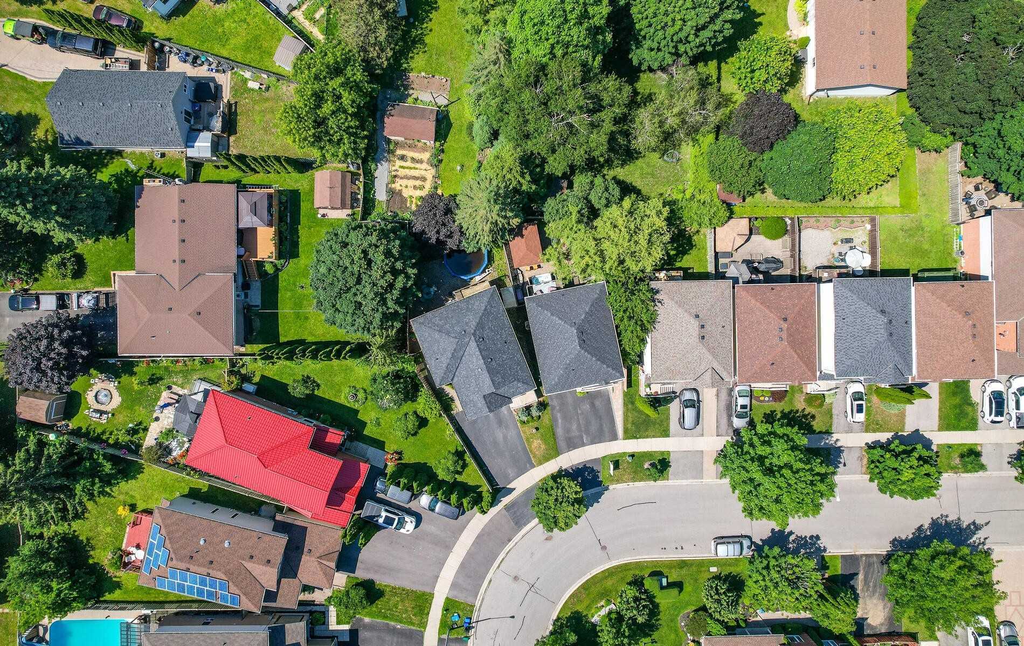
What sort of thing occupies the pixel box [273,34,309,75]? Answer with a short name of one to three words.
shed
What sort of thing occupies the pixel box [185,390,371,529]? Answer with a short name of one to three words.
house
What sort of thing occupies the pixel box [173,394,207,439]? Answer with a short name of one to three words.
gazebo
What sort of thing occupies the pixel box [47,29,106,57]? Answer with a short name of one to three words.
truck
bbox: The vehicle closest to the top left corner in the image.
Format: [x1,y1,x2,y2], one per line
[4,18,46,43]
